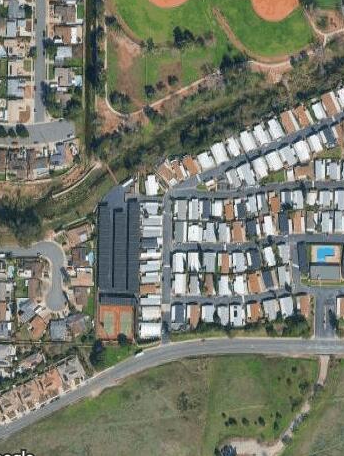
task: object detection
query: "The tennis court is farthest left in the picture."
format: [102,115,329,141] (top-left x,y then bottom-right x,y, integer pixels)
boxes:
[99,306,117,340]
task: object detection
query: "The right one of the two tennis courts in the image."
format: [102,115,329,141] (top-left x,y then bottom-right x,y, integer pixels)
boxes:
[117,306,134,340]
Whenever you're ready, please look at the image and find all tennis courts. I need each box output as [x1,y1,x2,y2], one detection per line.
[99,306,117,340]
[117,306,134,340]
